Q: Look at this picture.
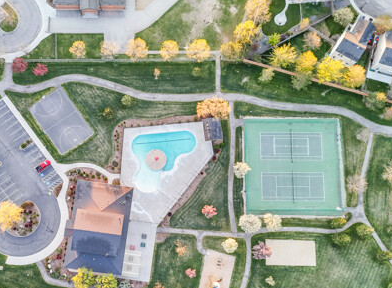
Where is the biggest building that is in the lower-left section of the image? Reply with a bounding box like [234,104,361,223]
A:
[64,180,134,276]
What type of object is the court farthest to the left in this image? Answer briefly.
basketball court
